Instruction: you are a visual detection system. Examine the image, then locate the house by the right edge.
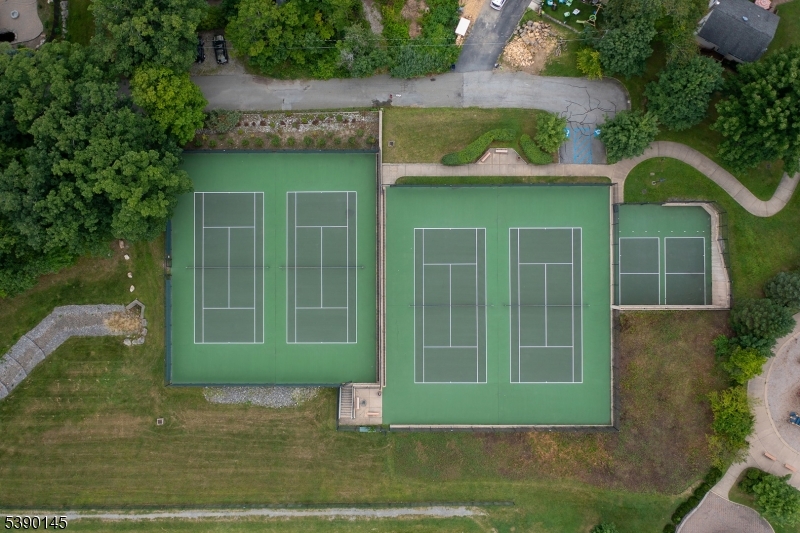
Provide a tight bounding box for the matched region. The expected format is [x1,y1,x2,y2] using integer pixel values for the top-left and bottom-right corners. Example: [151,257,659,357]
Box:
[687,0,773,69]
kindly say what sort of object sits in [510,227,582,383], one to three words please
tennis court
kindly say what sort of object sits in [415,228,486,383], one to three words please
tennis court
